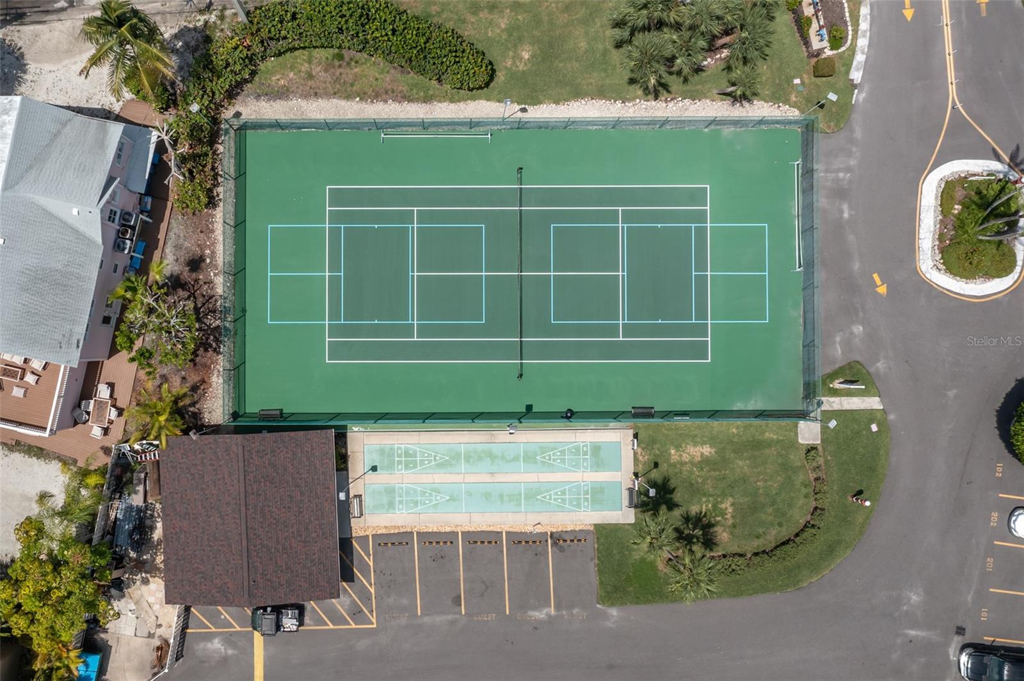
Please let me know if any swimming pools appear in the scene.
No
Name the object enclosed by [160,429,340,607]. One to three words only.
shed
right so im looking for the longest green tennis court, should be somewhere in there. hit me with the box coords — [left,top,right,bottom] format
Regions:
[235,128,803,431]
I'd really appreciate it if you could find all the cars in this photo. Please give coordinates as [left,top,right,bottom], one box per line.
[1010,509,1024,539]
[960,649,1024,681]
